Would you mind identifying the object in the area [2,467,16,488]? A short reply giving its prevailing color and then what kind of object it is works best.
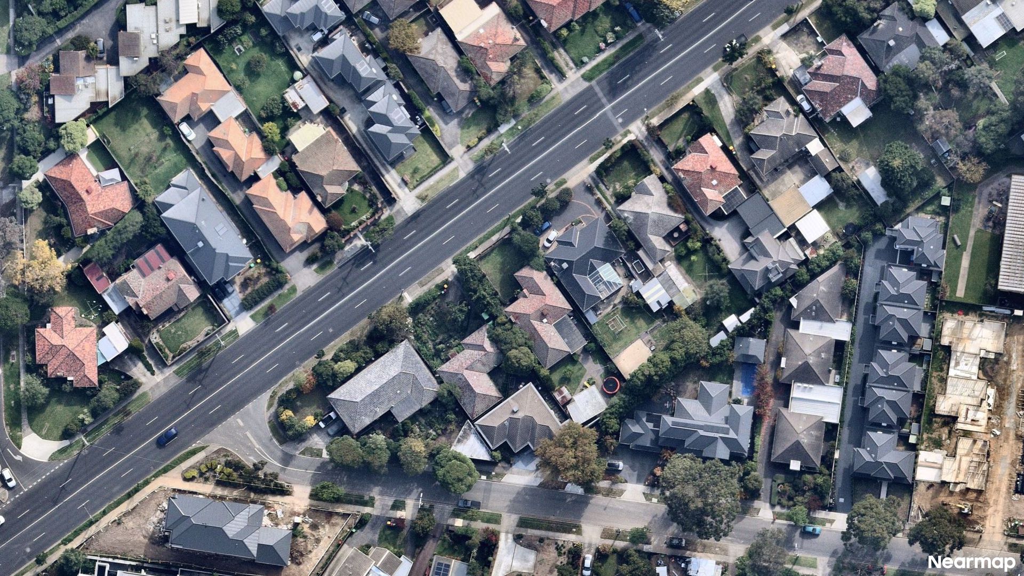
white car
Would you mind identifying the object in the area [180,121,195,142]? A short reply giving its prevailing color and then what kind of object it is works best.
white car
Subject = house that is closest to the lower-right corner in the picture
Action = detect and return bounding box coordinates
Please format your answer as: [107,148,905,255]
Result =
[917,437,992,491]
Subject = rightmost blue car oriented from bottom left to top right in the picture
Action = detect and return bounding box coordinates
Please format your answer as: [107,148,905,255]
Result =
[534,220,553,235]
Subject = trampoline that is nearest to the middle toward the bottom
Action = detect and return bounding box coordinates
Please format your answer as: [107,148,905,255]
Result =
[602,377,619,394]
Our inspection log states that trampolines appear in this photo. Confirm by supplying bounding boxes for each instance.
[843,221,858,236]
[602,377,619,394]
